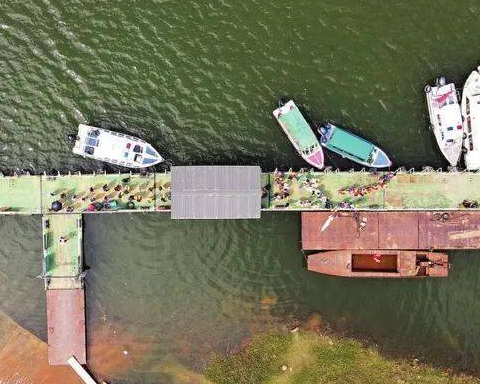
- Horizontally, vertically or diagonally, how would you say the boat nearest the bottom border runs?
horizontally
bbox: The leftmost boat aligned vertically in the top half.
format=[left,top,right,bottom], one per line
[422,81,465,166]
